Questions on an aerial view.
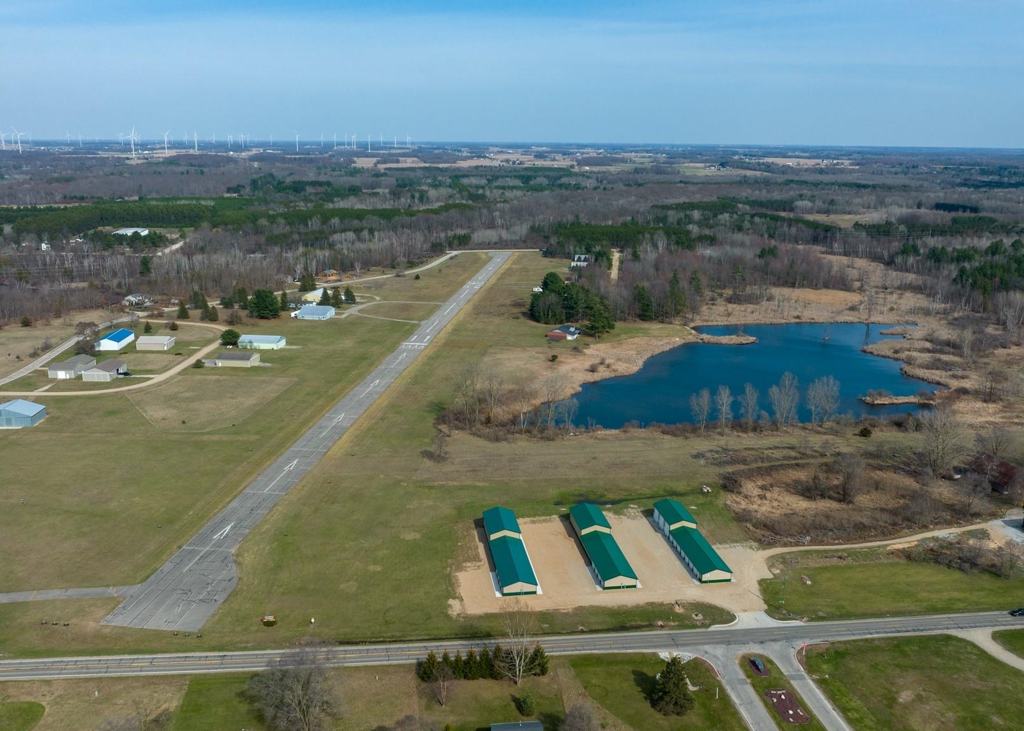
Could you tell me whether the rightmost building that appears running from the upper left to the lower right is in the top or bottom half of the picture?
bottom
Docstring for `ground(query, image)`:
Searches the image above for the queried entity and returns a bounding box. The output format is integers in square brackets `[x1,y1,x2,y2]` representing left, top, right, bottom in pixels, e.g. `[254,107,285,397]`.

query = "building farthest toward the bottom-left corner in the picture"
[0,399,49,427]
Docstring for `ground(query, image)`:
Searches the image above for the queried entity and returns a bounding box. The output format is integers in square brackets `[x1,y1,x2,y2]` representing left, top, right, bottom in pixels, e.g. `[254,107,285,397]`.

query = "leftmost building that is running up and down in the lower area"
[489,505,543,596]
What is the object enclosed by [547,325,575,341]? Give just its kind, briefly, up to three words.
house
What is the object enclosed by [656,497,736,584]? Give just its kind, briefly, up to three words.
building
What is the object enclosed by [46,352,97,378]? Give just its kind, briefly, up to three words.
hangar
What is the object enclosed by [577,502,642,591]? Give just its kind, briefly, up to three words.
building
